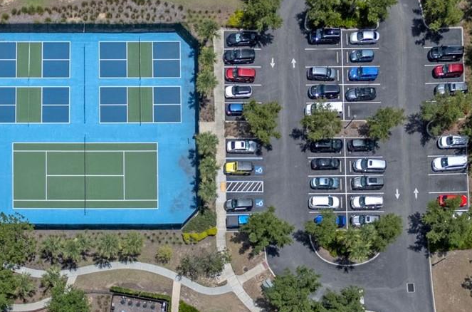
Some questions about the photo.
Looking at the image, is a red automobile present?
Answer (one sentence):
Yes, there is a red automobile in the image.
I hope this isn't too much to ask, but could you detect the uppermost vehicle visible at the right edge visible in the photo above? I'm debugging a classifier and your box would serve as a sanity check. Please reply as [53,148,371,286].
[427,45,463,61]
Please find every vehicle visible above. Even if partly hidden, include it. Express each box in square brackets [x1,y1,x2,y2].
[348,65,380,81]
[352,195,382,209]
[354,157,384,173]
[345,86,374,101]
[224,197,253,212]
[227,31,256,47]
[347,48,374,64]
[224,48,253,65]
[311,157,340,172]
[309,28,340,43]
[225,67,255,84]
[352,175,383,191]
[432,62,462,79]
[347,138,376,153]
[433,155,470,172]
[307,65,336,81]
[222,213,256,227]
[348,30,377,46]
[225,160,253,175]
[427,45,463,61]
[312,137,342,153]
[224,103,250,118]
[309,176,338,191]
[309,195,340,209]
[437,135,468,150]
[308,84,338,99]
[225,84,252,99]
[436,80,466,96]
[350,213,378,227]
[226,139,255,154]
